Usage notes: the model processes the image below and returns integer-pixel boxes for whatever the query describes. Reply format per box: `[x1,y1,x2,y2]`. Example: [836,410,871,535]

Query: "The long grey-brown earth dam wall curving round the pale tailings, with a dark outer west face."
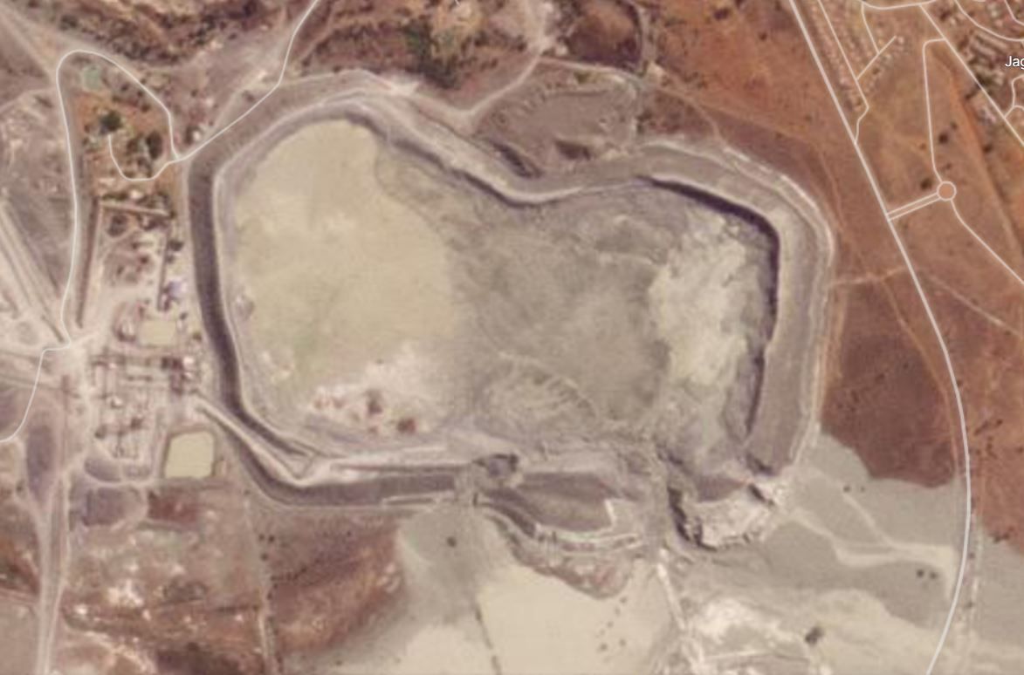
[188,73,835,508]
